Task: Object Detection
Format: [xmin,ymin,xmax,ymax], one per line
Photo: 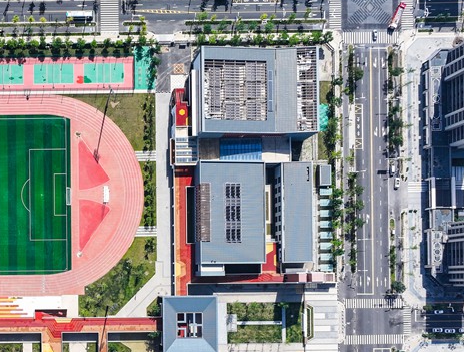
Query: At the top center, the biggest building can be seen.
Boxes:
[185,47,318,142]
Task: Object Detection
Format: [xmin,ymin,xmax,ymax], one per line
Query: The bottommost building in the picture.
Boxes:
[163,296,218,352]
